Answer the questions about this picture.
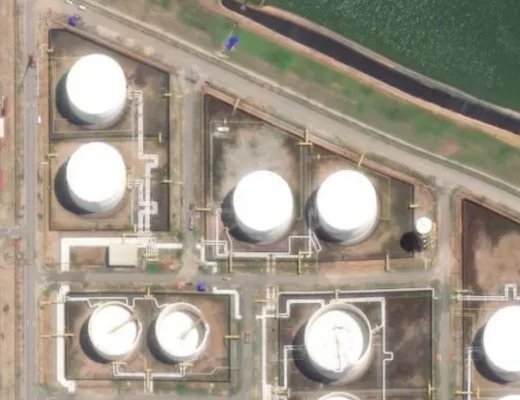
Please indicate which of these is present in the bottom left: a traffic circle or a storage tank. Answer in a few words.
storage tank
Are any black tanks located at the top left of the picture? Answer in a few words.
No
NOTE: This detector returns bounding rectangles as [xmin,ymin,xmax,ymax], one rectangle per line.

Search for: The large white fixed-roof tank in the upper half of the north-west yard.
[66,55,131,129]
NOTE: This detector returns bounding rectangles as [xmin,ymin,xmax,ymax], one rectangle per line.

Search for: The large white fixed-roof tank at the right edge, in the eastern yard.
[481,305,520,387]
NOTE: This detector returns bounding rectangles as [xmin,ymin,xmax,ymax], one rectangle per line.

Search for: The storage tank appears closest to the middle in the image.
[232,171,298,246]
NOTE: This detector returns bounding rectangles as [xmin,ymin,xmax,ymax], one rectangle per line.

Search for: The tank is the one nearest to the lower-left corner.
[87,301,144,363]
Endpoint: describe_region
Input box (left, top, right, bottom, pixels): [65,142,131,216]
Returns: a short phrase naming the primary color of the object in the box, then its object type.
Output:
white storage tank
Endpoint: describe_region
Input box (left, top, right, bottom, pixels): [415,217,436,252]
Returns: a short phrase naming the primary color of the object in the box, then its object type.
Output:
white water tower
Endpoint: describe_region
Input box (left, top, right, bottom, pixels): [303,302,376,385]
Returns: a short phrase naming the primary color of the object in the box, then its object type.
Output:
white storage tank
